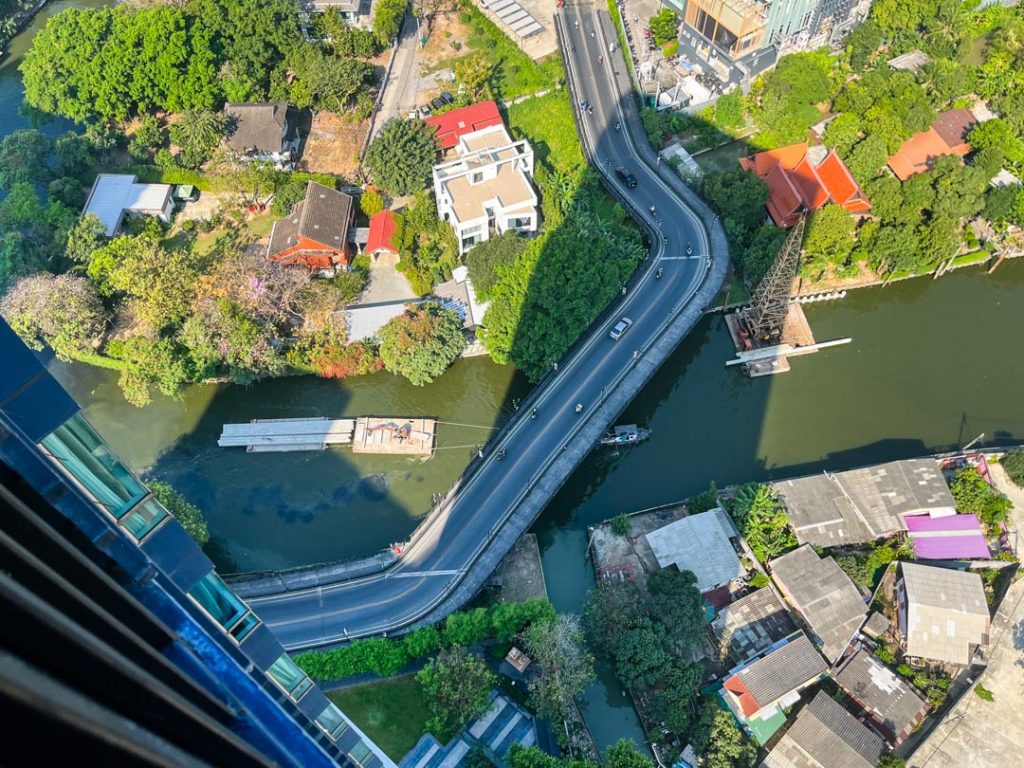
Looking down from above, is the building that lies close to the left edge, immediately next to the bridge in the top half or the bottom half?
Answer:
bottom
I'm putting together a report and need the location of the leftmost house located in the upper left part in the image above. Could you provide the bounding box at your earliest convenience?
[84,174,174,243]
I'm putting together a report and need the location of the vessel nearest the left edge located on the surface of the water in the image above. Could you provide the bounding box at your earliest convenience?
[217,418,355,454]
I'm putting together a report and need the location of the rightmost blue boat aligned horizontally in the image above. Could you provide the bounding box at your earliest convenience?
[600,422,650,443]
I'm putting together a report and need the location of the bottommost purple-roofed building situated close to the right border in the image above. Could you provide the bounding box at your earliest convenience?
[899,514,990,563]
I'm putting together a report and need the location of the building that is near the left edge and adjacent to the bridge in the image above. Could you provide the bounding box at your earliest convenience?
[0,317,397,768]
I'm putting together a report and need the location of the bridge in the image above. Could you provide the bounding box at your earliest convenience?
[220,0,731,659]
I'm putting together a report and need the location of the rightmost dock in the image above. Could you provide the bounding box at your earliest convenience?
[743,356,789,380]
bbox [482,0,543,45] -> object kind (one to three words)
shed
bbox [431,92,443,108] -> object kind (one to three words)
vehicle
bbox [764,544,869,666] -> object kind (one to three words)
house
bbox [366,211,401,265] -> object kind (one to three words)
building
